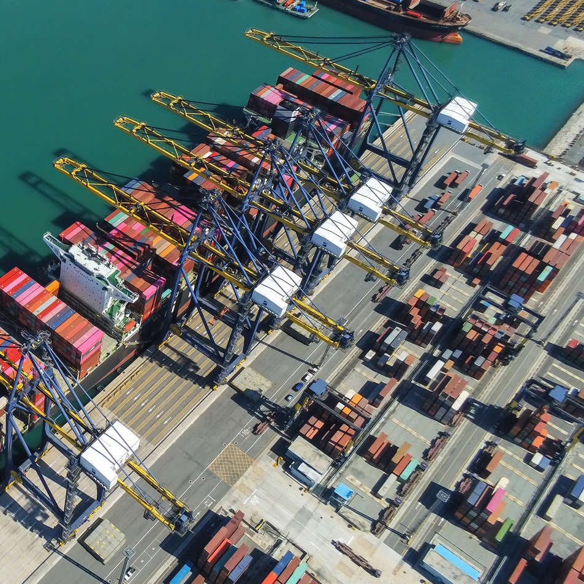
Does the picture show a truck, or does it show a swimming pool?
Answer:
truck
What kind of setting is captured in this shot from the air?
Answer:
port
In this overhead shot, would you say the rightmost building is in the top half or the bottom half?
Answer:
bottom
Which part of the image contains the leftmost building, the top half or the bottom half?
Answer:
bottom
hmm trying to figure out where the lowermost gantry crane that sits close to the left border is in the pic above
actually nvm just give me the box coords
[0,315,208,550]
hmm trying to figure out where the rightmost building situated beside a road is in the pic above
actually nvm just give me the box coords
[414,542,482,584]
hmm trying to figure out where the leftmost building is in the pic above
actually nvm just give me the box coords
[282,436,335,483]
